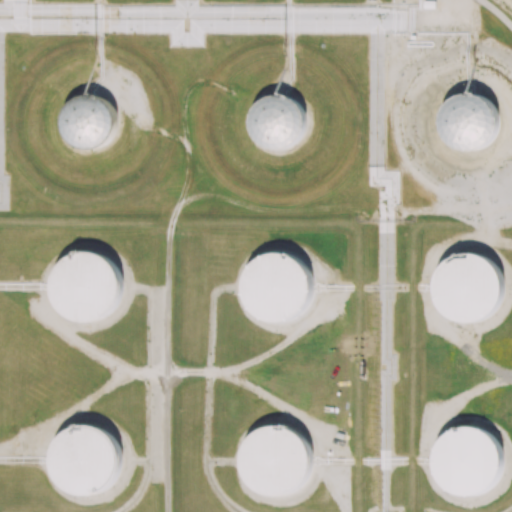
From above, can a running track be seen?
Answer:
No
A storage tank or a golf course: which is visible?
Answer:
storage tank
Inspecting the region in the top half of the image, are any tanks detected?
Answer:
Yes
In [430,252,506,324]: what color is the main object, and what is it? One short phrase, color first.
white storage tank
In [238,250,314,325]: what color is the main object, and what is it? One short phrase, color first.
white storage tank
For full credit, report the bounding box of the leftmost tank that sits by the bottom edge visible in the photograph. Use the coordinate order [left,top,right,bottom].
[46,424,122,497]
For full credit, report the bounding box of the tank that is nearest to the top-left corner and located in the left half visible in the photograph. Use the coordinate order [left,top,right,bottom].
[58,61,118,152]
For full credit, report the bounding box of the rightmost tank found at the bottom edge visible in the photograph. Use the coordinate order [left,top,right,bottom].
[429,426,505,498]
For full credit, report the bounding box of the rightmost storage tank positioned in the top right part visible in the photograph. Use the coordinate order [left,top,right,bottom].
[436,62,500,154]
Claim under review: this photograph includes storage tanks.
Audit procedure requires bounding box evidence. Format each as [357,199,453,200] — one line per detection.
[236,424,312,498]
[430,252,506,324]
[58,61,118,152]
[436,62,500,154]
[48,251,124,324]
[46,424,122,497]
[246,68,310,156]
[429,426,505,498]
[238,250,314,325]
